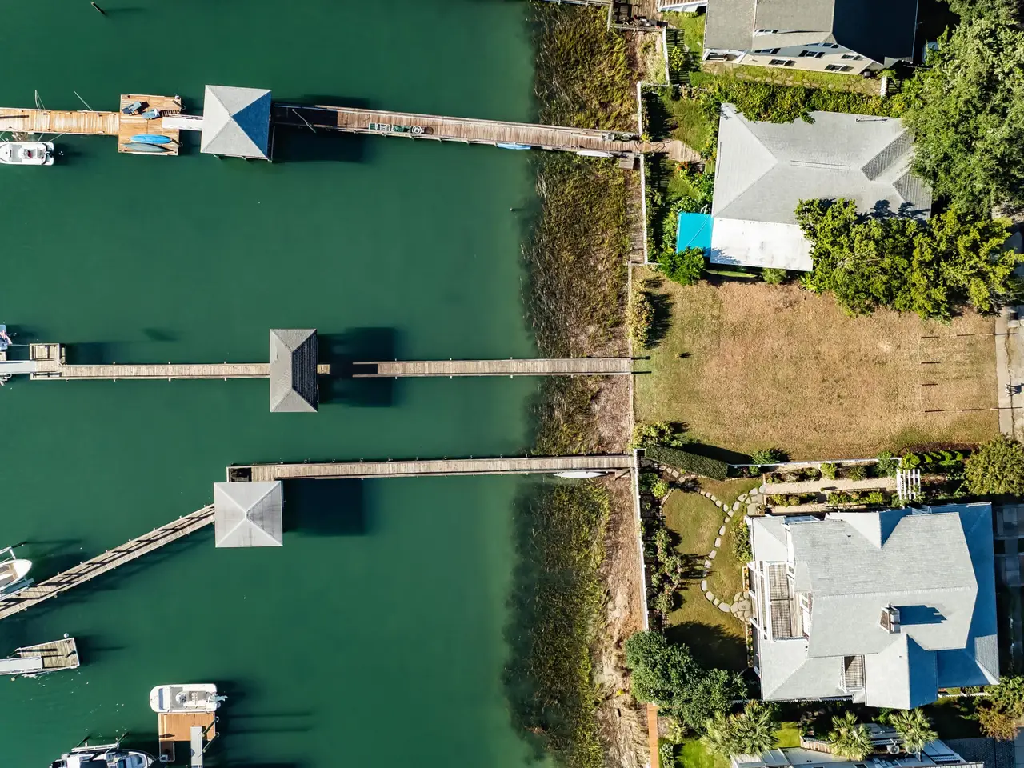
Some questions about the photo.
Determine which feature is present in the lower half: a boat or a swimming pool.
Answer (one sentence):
The one visible in the lower half is a boat.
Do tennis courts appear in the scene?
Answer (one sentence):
No, I can't see a single tennis court in this photo.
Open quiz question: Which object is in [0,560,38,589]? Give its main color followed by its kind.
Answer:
white boat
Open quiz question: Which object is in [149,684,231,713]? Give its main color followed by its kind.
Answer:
white boat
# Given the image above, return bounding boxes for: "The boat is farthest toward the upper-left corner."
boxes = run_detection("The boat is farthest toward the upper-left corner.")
[0,141,70,166]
